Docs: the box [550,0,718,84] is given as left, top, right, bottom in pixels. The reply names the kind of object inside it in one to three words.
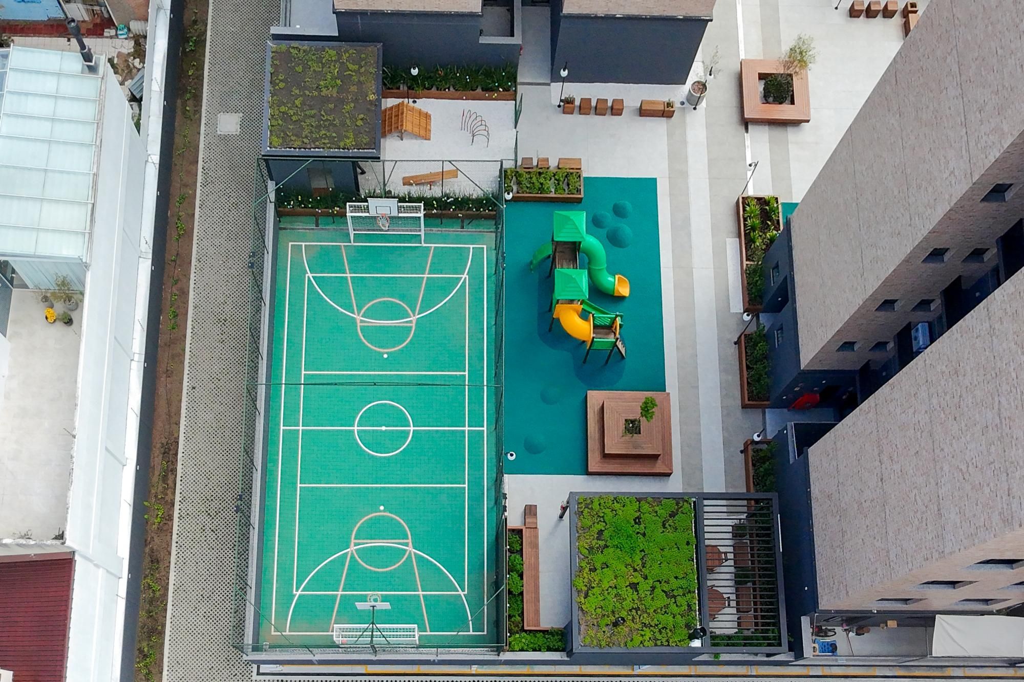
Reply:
building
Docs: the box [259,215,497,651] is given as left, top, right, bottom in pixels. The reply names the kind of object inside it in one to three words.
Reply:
sports court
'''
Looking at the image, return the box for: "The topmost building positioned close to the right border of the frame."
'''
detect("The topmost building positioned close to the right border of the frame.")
[761,0,1024,407]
